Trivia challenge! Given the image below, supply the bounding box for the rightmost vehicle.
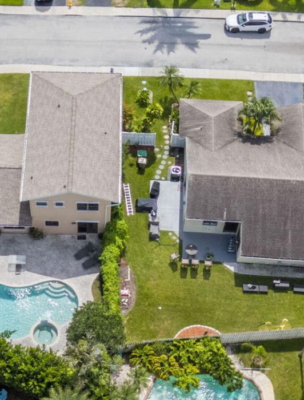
[223,11,274,35]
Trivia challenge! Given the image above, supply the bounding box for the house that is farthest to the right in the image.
[179,99,304,270]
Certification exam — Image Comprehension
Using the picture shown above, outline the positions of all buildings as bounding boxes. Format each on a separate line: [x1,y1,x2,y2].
[18,72,124,234]
[179,99,304,270]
